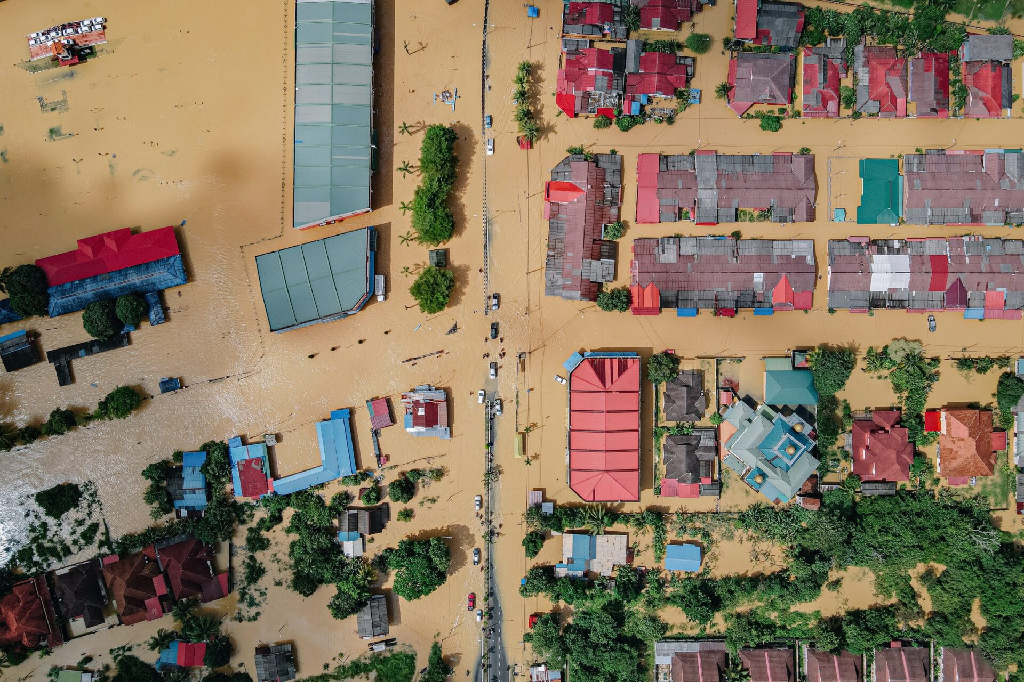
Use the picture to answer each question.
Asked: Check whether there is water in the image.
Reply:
Yes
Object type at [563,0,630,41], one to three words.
house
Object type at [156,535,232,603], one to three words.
house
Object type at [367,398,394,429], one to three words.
shed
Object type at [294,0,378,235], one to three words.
building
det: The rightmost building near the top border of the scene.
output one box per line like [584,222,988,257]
[953,32,1012,119]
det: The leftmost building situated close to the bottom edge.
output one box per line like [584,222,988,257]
[0,575,69,649]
